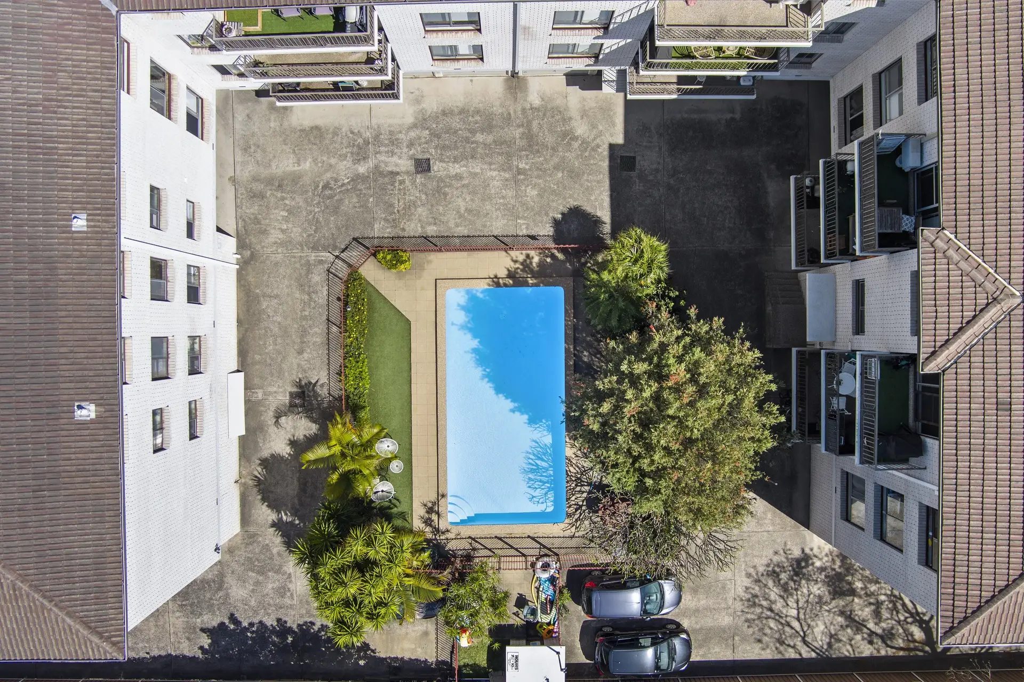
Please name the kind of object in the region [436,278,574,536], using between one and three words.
swimming pool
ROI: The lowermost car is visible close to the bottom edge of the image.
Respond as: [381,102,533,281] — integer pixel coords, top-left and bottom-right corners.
[591,623,691,680]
